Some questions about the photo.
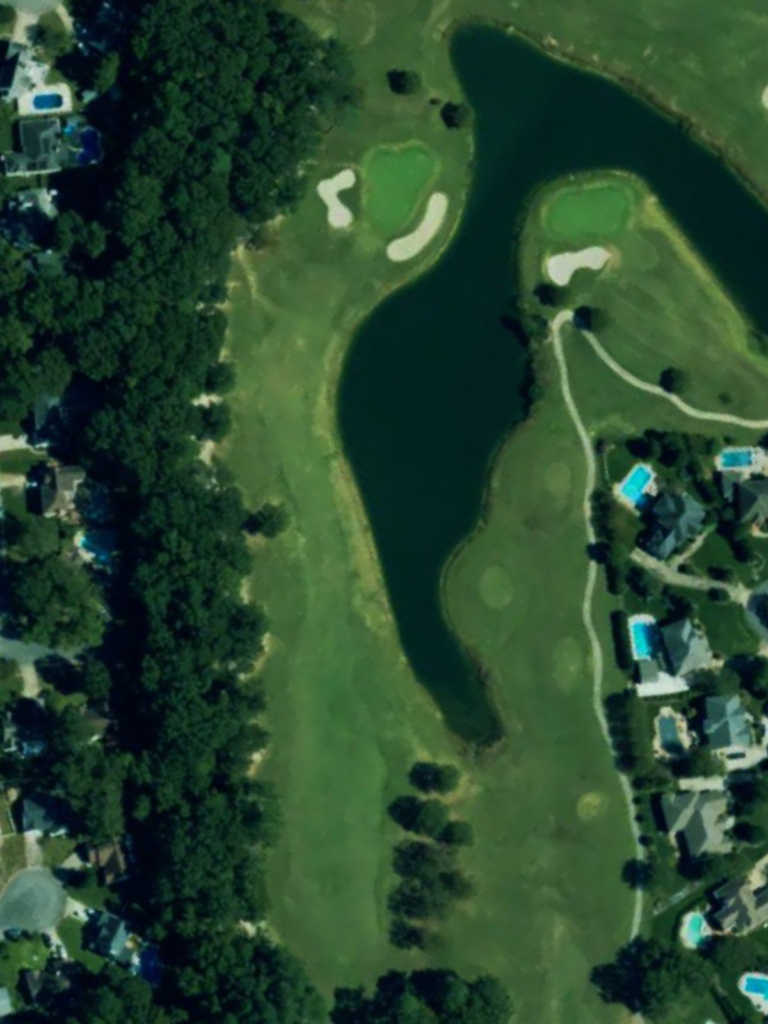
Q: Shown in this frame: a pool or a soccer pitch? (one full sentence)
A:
The one in the frame is a pool.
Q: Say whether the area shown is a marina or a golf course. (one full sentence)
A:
What you see here is a golf course.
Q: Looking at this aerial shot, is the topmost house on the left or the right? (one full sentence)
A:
The topmost house appears in the left half of the scene.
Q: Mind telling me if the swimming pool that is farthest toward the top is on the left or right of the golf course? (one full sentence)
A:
It is on the left side of the golf course that the swimming pool that is farthest toward the top is positioned.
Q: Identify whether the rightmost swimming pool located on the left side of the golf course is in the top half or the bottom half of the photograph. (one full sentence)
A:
It is in the bottom half that the rightmost swimming pool located on the left side of the golf course appears.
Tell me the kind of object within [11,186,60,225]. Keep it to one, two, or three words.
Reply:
house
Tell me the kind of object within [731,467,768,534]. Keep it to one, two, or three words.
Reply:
house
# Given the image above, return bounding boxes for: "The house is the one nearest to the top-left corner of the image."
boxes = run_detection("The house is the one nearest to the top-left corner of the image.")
[0,41,44,102]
